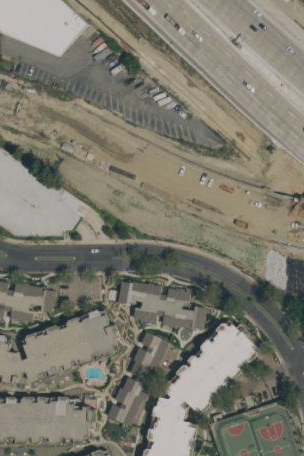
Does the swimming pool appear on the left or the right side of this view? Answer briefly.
left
